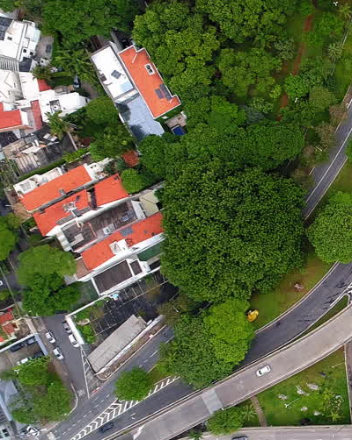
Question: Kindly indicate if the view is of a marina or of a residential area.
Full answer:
The picture captures a residential area.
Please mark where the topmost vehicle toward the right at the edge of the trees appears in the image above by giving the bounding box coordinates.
[246,308,261,321]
